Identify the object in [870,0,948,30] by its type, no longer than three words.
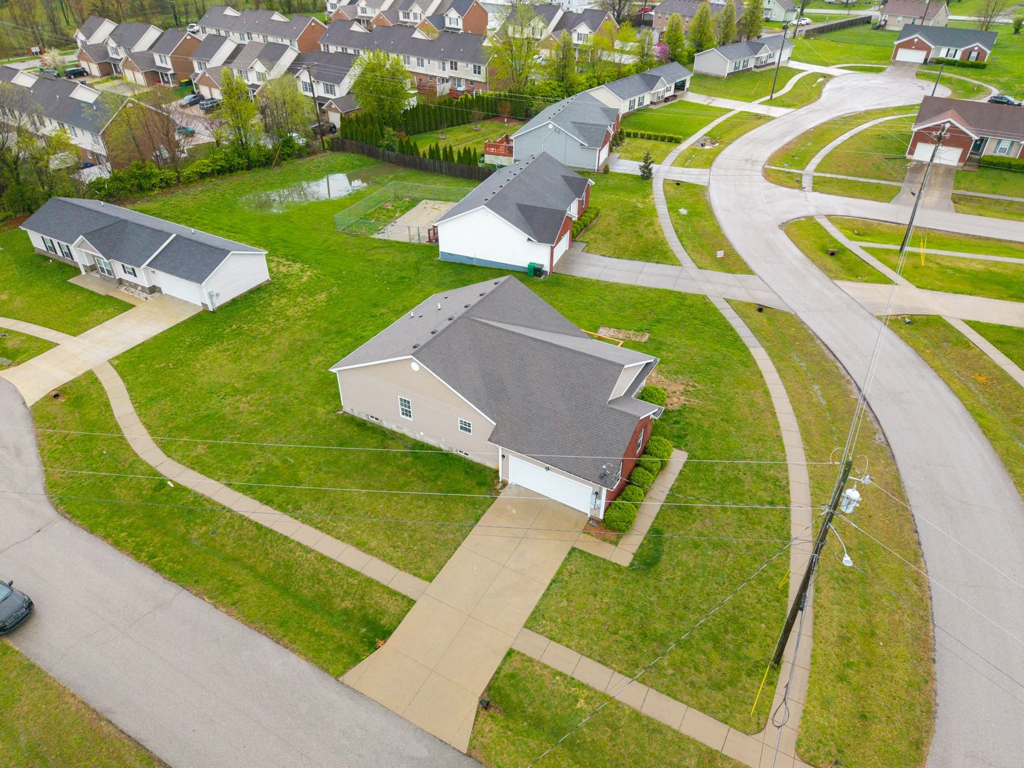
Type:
house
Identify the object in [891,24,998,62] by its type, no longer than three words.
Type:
house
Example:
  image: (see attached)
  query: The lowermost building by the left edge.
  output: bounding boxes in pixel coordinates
[20,198,274,311]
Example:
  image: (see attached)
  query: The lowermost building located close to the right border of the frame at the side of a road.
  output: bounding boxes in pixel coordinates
[879,95,1024,170]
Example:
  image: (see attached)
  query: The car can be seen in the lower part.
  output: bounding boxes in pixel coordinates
[0,587,34,639]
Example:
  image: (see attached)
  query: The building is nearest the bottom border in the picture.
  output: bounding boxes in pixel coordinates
[327,276,669,521]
